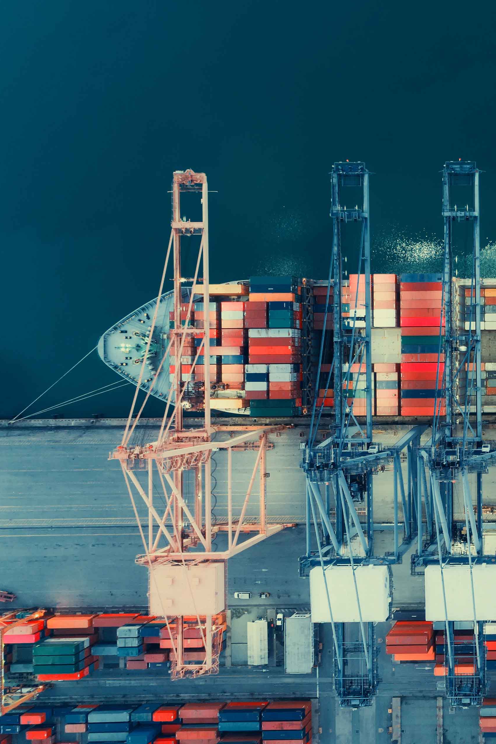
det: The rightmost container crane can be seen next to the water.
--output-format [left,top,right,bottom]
[408,156,496,709]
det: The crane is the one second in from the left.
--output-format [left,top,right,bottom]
[107,165,308,686]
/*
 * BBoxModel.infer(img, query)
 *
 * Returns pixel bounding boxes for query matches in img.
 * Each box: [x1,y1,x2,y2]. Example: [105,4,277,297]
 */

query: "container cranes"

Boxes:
[298,157,436,709]
[408,156,496,709]
[0,607,55,715]
[107,165,308,686]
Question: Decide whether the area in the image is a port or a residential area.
port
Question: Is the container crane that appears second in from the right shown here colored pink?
No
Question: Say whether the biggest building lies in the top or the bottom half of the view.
bottom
